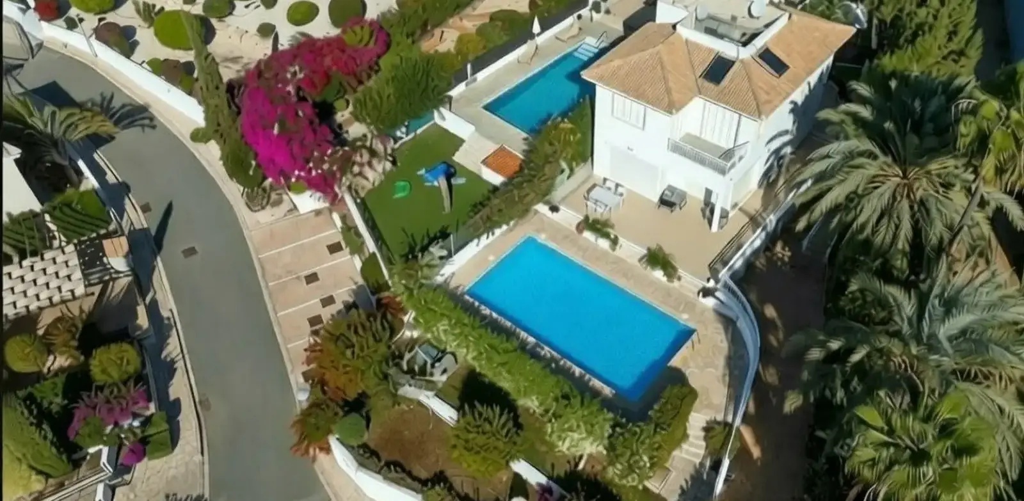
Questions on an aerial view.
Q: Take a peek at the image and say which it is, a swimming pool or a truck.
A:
swimming pool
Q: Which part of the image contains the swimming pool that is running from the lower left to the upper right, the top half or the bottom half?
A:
top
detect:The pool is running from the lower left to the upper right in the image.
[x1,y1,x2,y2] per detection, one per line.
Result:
[477,34,615,135]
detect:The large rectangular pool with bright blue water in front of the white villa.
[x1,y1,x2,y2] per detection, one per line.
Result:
[457,230,704,404]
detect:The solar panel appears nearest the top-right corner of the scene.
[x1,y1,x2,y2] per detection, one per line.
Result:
[760,48,791,77]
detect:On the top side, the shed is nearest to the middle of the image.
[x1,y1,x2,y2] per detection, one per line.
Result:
[482,139,522,174]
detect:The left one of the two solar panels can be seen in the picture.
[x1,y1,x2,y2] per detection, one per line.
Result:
[699,58,732,88]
